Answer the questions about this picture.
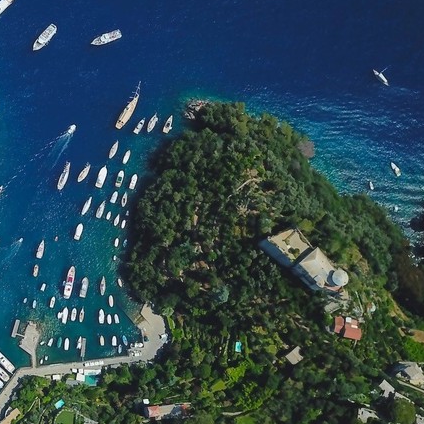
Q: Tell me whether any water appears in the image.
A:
Yes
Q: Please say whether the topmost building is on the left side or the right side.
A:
right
